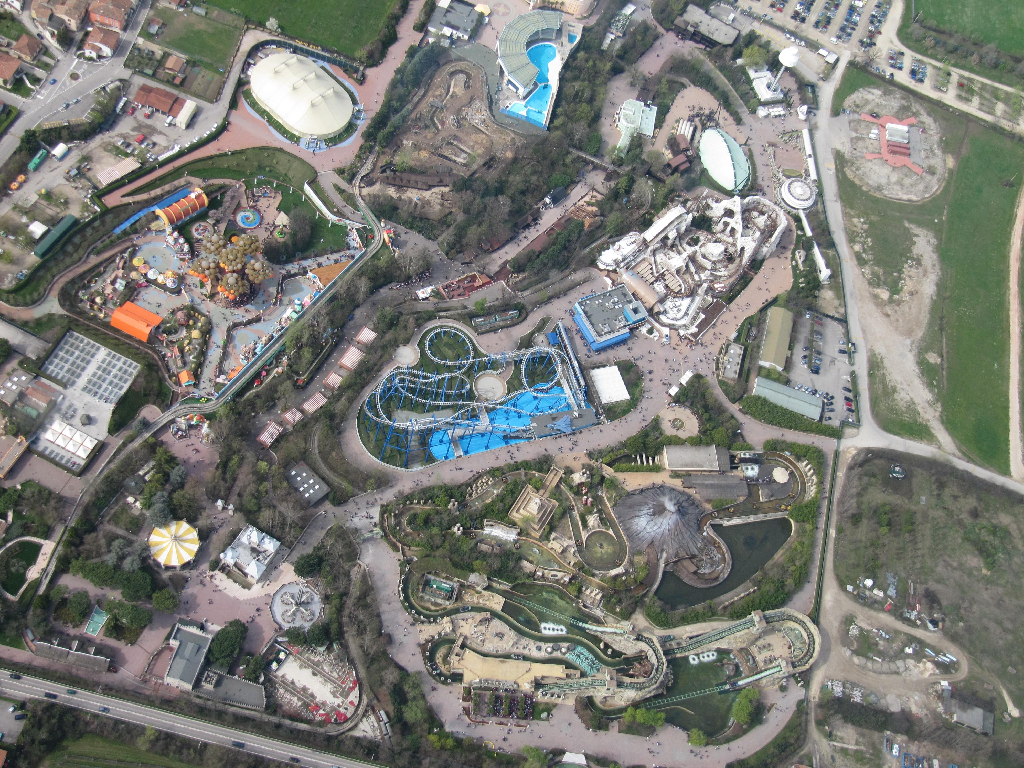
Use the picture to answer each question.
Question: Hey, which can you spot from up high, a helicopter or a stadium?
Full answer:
The image shows a stadium.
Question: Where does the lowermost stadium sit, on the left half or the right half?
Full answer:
The lowermost stadium is on the right side of the image.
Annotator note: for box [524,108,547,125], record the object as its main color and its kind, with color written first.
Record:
blue swimming pool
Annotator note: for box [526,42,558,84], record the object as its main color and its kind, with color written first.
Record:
blue swimming pool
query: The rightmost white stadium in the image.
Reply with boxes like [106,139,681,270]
[697,127,751,195]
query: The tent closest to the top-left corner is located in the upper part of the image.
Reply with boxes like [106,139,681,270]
[241,53,359,145]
